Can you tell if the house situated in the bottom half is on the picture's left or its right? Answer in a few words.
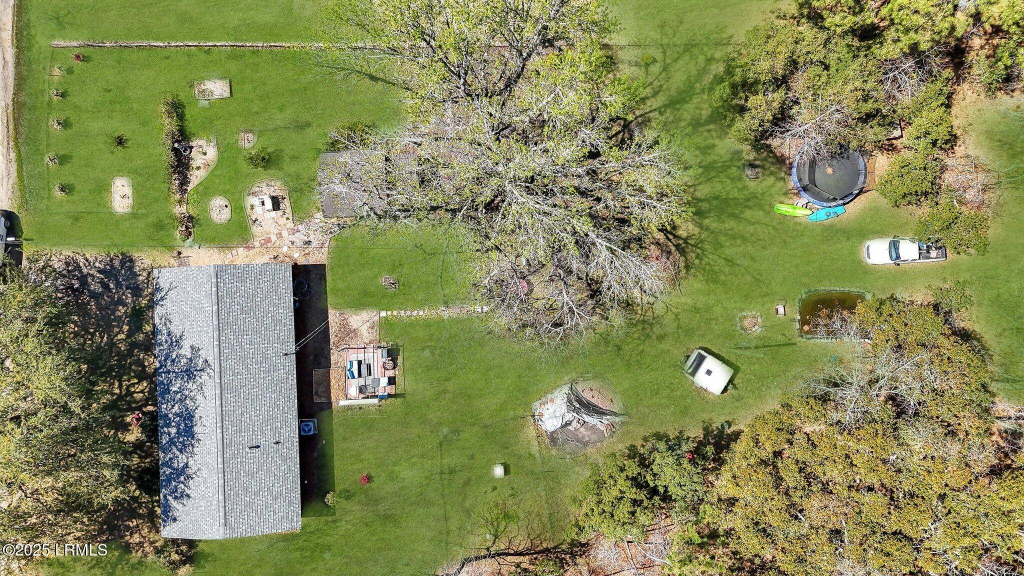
left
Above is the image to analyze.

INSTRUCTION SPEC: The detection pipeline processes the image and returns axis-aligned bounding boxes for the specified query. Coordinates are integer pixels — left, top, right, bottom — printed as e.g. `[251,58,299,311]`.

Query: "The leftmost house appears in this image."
[152,264,307,542]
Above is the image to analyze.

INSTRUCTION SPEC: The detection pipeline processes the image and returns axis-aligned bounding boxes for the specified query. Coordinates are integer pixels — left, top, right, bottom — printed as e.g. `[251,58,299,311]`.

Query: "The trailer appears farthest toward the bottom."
[680,345,737,393]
